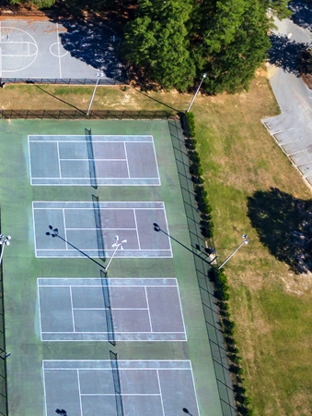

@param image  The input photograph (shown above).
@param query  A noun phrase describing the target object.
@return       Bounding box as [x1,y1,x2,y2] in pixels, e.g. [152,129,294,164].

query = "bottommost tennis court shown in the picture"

[43,359,200,416]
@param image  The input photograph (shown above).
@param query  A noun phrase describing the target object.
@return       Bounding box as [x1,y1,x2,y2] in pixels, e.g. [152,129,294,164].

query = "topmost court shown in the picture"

[0,13,131,82]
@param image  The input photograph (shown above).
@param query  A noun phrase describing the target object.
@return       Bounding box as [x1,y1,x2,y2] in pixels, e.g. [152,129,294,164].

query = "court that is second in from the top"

[28,135,161,185]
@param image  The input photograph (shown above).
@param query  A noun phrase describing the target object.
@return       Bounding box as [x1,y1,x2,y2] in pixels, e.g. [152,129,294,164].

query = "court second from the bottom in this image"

[37,278,187,340]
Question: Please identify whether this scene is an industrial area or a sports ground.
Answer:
sports ground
